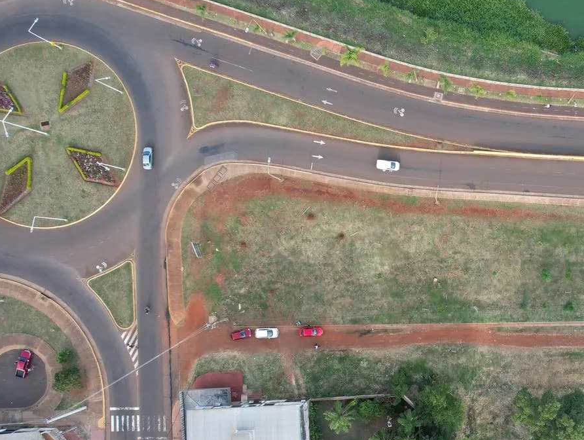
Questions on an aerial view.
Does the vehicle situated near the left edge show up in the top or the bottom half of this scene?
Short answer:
bottom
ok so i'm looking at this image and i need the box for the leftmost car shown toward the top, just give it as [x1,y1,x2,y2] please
[139,146,153,171]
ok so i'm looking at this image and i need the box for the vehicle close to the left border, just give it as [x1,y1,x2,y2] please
[12,349,33,381]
